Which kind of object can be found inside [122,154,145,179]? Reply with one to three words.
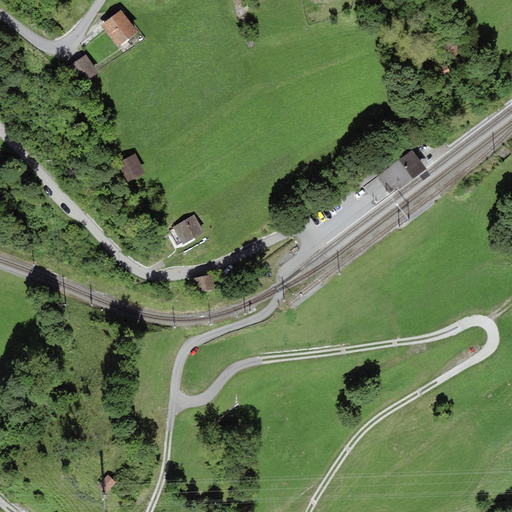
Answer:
barn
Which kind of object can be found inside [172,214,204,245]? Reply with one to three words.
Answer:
house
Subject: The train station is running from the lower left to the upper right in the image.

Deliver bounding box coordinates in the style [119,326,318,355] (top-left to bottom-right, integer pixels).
[303,99,512,272]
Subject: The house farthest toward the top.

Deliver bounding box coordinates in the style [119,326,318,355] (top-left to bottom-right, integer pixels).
[102,10,138,47]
